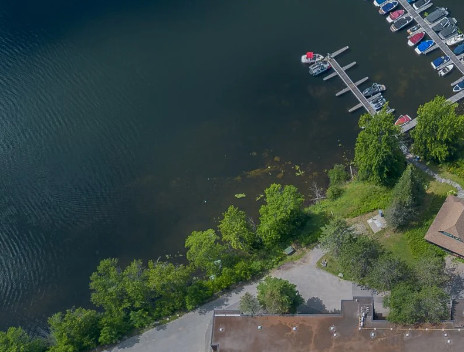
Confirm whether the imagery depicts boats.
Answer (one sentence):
Yes, a boat appears in the view.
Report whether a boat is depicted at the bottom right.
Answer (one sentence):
No, no boat can be made out at the bottom right.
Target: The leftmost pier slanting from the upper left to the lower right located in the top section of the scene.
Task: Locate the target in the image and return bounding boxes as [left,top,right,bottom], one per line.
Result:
[327,55,377,119]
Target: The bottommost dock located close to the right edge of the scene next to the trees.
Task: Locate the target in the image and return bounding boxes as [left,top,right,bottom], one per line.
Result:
[399,99,446,133]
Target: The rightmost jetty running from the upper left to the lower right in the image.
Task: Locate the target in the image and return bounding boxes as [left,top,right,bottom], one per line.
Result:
[398,0,464,76]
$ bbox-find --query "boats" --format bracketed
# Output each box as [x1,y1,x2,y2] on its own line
[411,40,433,56]
[388,16,411,33]
[447,32,464,46]
[371,96,385,107]
[437,65,453,78]
[423,5,451,25]
[363,80,388,96]
[307,58,331,77]
[453,80,464,92]
[450,41,464,56]
[437,22,461,40]
[428,17,450,33]
[393,111,415,128]
[372,101,386,111]
[377,1,398,16]
[445,16,459,28]
[384,9,404,25]
[404,32,425,48]
[371,0,388,9]
[428,55,450,71]
[407,24,422,36]
[380,107,395,116]
[298,54,323,62]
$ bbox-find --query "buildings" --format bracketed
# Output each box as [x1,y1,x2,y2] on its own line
[210,295,464,352]
[424,195,464,259]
